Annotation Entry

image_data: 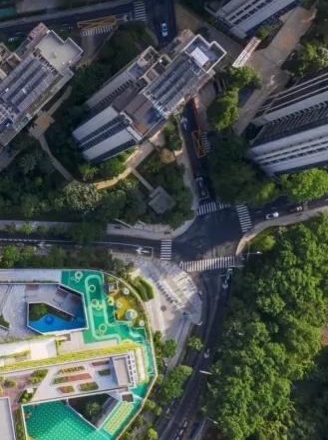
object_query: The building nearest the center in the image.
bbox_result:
[145,186,175,214]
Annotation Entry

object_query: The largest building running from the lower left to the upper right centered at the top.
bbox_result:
[67,30,227,165]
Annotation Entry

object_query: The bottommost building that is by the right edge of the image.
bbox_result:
[251,63,328,173]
